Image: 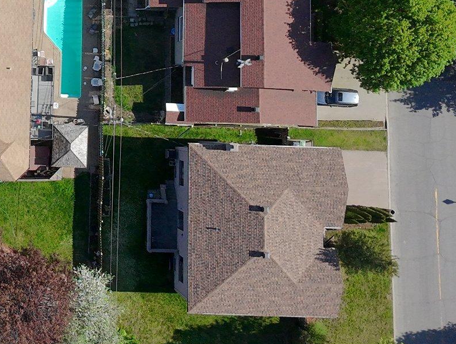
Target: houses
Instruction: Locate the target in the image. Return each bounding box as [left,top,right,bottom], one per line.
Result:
[146,0,338,128]
[176,143,349,318]
[0,0,33,182]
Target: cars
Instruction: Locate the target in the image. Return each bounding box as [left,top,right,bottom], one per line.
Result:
[318,89,359,109]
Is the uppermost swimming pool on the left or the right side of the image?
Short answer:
left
